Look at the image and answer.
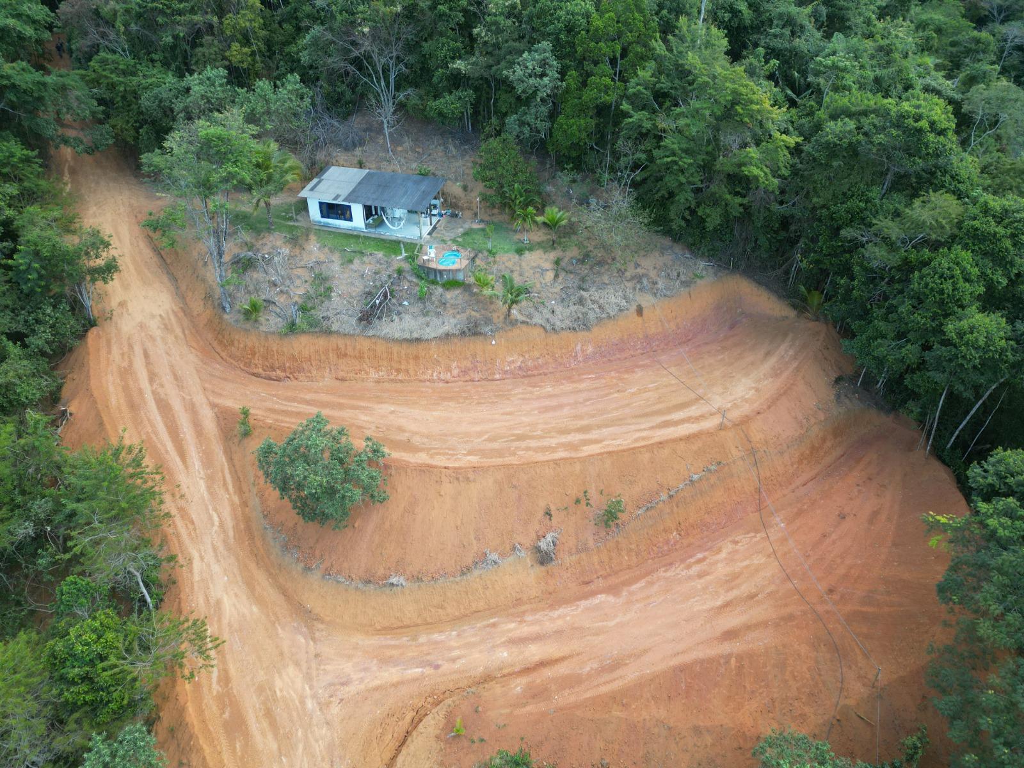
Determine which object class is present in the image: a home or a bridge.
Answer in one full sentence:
The image shows a home.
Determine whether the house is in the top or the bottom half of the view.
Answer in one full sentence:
It is in the top half that the house appears.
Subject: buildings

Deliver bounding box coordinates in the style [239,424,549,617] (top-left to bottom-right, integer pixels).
[301,165,446,239]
